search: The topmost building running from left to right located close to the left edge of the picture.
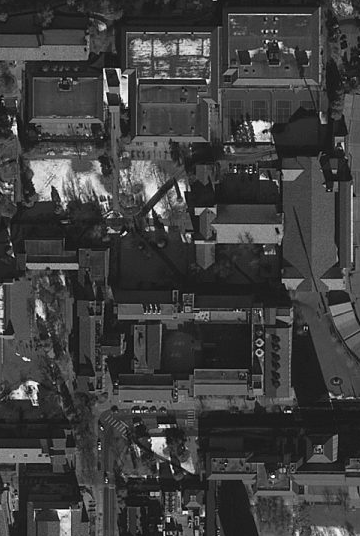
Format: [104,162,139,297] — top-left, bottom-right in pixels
[0,28,89,60]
